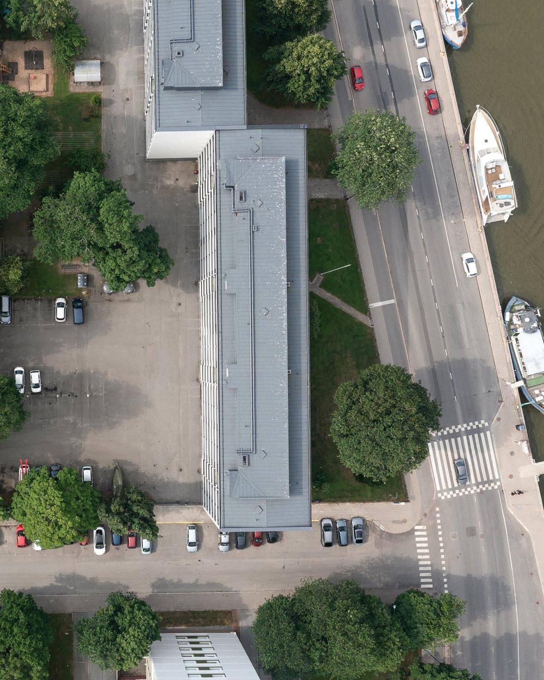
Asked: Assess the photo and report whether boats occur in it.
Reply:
Yes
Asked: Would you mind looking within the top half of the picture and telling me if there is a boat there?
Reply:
Yes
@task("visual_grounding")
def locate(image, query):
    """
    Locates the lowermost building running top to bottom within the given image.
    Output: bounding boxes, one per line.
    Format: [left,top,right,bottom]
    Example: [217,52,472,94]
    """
[197,128,312,533]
